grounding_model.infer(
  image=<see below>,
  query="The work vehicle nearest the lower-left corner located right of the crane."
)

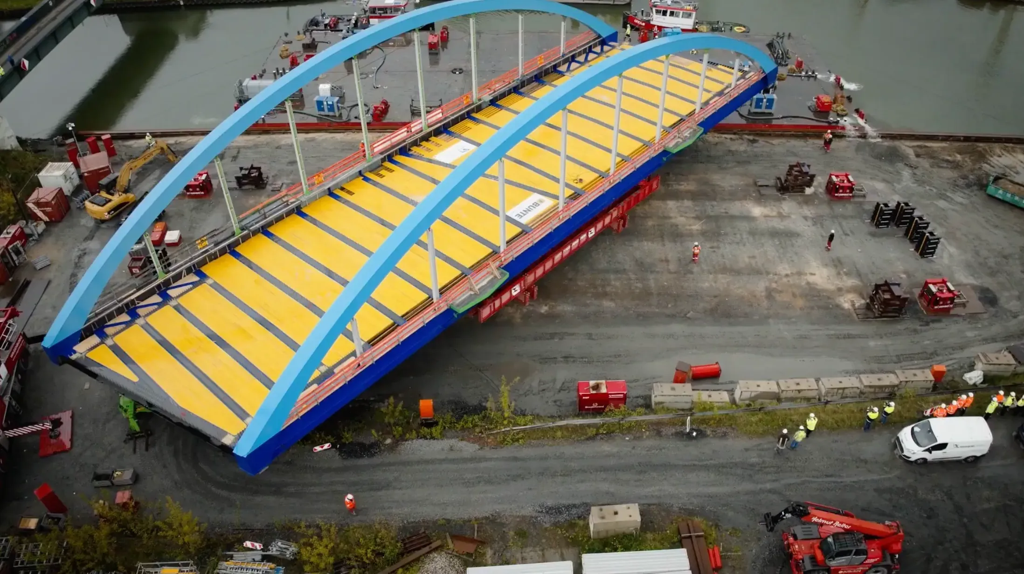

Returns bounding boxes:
[104,391,155,458]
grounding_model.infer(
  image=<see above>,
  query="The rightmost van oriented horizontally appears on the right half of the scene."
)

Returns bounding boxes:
[893,418,996,465]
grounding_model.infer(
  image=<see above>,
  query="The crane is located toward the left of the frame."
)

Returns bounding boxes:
[0,289,63,451]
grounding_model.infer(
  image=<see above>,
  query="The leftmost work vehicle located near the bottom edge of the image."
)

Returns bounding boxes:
[762,502,916,574]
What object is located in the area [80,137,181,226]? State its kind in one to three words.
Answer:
work vehicle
